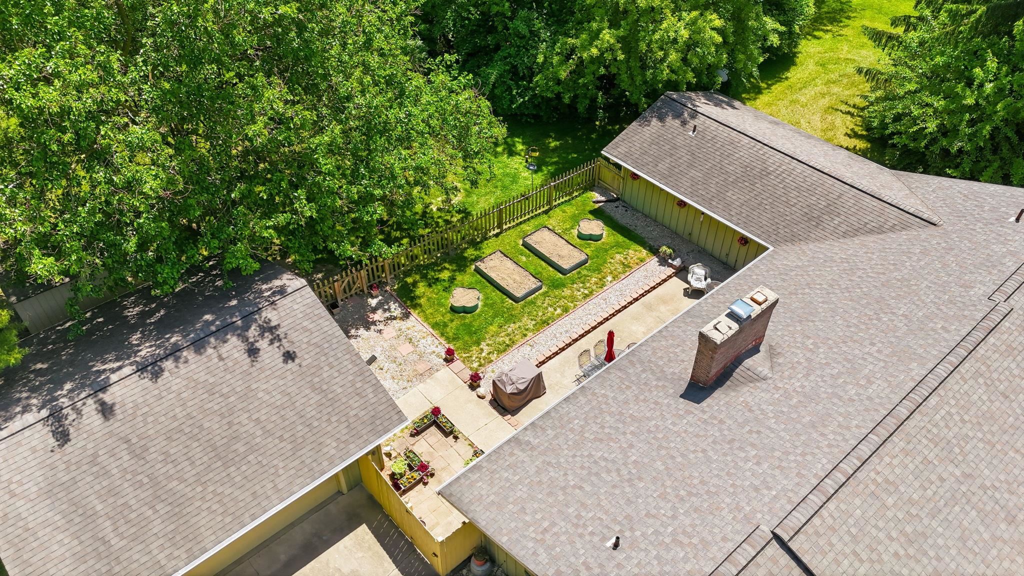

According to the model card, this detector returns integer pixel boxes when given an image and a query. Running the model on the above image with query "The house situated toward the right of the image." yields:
[424,92,1024,576]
